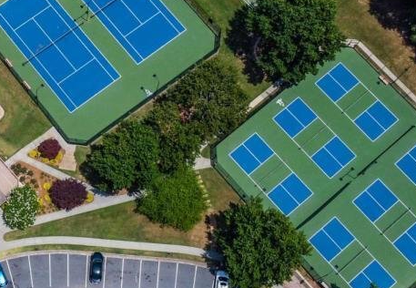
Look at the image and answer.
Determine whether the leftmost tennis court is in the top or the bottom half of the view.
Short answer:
top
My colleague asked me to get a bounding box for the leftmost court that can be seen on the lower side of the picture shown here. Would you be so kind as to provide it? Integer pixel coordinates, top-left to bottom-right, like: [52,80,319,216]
[229,132,314,214]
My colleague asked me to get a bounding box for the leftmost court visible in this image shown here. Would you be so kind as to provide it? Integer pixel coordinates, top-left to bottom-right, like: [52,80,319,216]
[0,0,122,113]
